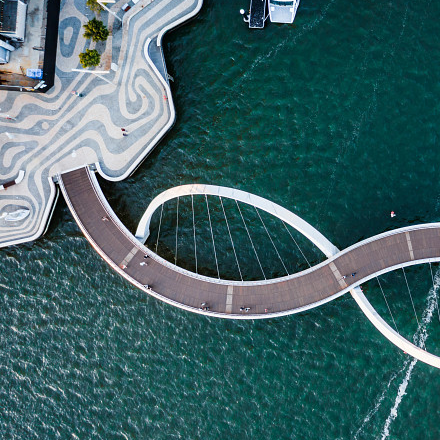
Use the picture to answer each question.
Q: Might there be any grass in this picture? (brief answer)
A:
No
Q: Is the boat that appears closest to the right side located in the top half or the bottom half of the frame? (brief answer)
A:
top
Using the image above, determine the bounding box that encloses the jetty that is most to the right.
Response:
[250,0,266,29]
